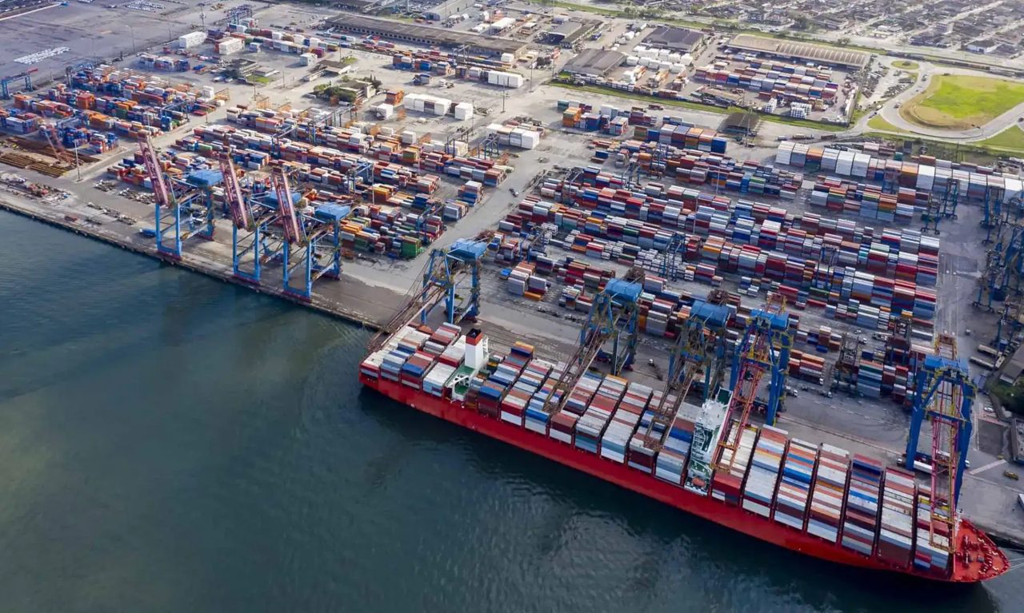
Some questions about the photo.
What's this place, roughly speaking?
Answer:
port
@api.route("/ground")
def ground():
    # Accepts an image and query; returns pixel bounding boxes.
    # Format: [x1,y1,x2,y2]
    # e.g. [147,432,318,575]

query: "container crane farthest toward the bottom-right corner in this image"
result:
[901,350,977,557]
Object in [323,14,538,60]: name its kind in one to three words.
building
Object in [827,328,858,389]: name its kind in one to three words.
container crane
